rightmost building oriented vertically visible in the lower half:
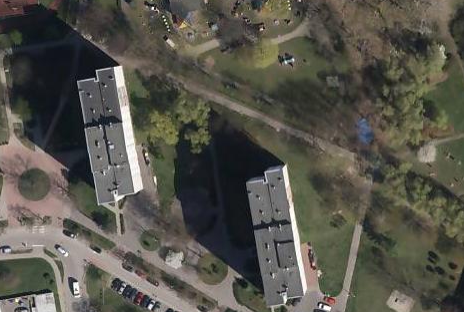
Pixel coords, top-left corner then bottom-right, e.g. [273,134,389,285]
[245,163,308,308]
